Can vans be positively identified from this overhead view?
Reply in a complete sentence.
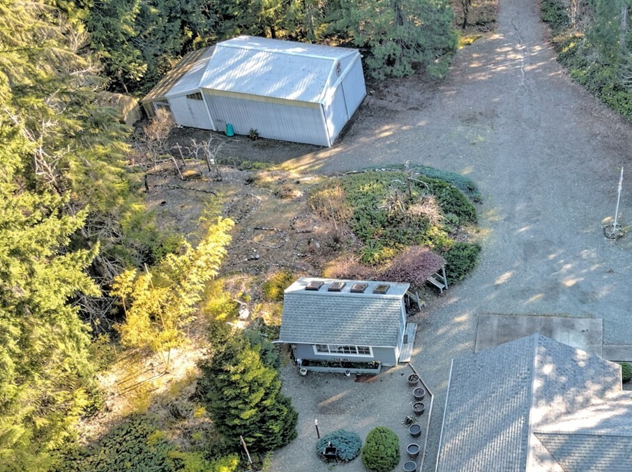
No, the scene contains no van.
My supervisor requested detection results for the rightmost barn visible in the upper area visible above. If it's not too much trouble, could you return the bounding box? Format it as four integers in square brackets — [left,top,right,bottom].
[153,39,370,146]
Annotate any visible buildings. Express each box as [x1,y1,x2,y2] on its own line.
[272,277,409,370]
[433,334,632,472]
[153,39,370,146]
[92,89,149,136]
